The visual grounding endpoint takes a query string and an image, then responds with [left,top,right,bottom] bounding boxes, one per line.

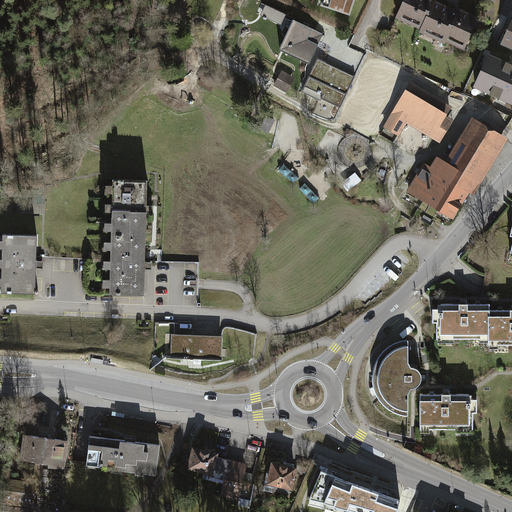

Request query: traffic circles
[274,360,344,430]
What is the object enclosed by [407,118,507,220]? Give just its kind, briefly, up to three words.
barn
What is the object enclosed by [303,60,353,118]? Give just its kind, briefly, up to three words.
building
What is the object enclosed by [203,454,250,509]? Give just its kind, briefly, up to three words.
house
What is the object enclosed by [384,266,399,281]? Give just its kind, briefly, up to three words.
vehicle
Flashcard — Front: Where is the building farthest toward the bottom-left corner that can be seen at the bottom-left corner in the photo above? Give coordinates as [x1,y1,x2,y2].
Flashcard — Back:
[21,434,68,468]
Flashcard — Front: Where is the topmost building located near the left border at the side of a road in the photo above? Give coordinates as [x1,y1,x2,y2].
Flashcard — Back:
[0,234,44,294]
